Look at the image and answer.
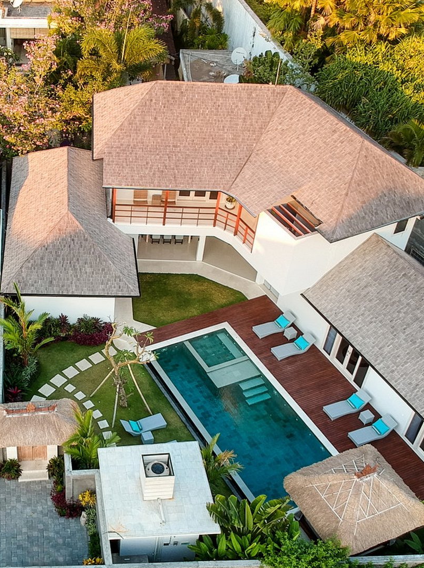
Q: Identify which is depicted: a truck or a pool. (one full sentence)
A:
Looking from above, you can make out a pool.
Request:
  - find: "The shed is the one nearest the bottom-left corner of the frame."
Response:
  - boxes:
[98,441,221,559]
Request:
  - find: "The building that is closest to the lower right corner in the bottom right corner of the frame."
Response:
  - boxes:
[282,444,424,561]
